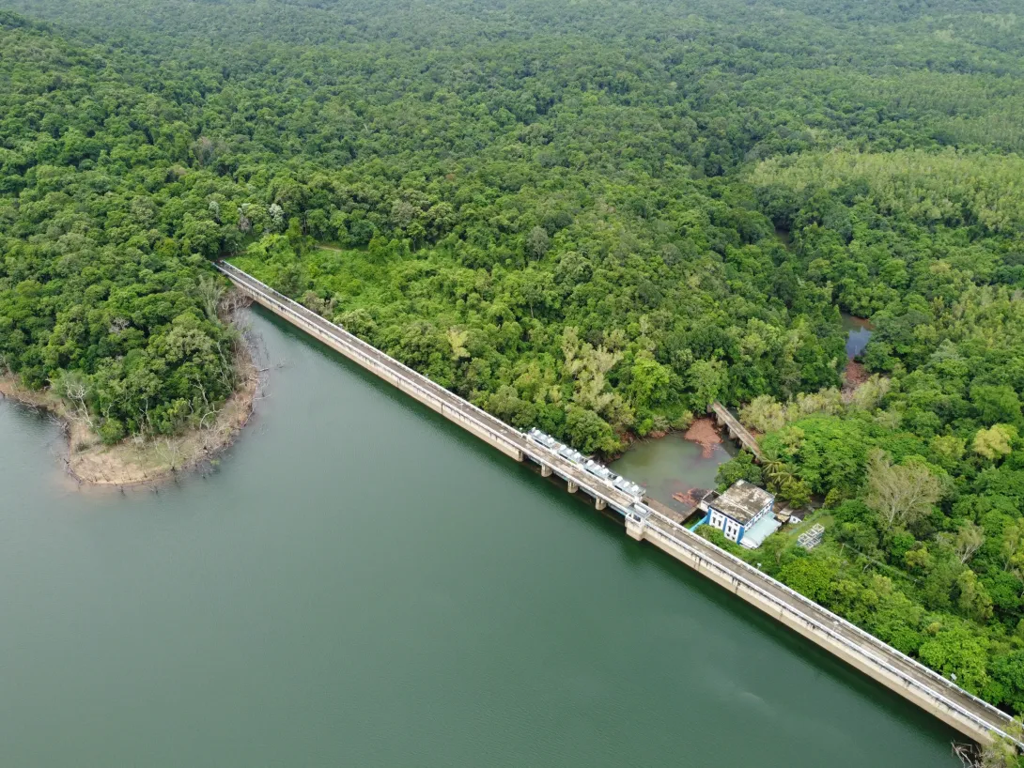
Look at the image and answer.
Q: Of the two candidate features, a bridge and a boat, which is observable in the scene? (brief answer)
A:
bridge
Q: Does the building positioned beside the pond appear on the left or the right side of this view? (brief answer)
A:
right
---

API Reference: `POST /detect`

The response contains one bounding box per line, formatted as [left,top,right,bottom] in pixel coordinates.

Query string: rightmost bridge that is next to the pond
[705,399,766,461]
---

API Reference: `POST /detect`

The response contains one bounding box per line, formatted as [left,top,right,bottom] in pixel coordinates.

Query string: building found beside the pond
[694,476,786,551]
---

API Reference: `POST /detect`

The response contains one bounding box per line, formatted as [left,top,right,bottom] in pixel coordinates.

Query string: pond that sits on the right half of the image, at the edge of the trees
[602,423,744,519]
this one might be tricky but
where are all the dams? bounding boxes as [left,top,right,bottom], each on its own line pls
[201,252,1024,752]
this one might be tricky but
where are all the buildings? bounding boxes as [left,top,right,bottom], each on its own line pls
[694,476,786,551]
[790,507,804,524]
